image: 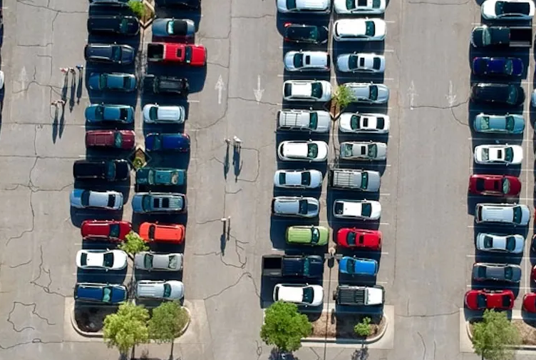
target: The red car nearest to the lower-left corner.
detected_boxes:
[81,218,133,243]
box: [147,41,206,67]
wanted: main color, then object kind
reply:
red truck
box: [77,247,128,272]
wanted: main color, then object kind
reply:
white car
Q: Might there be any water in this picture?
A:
No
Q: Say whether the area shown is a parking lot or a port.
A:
parking lot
